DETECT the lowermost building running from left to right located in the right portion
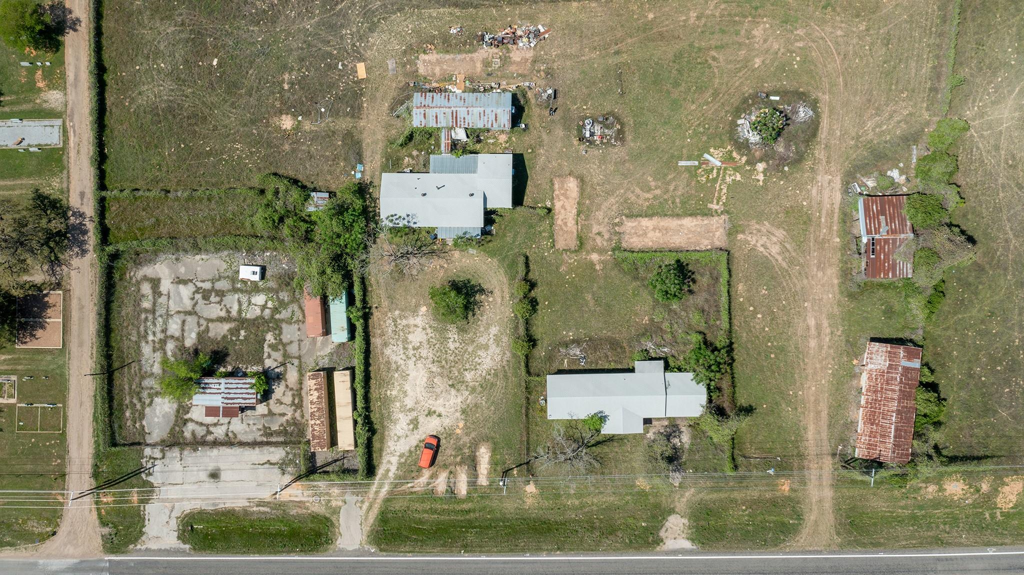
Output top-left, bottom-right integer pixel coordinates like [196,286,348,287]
[546,360,707,434]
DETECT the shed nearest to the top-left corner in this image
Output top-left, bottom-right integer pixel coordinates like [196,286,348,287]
[311,192,331,210]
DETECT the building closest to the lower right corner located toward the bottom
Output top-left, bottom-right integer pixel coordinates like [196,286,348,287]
[850,342,922,464]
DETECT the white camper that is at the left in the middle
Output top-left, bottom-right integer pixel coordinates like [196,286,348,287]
[240,265,268,280]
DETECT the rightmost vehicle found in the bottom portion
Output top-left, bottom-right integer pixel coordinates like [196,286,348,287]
[420,434,439,469]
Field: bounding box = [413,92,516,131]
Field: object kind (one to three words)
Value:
shed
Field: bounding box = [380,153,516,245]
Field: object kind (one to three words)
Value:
house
